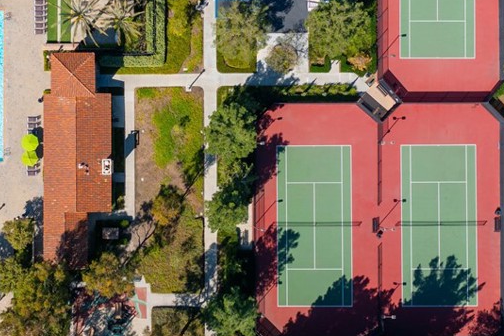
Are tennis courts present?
Yes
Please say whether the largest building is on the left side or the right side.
left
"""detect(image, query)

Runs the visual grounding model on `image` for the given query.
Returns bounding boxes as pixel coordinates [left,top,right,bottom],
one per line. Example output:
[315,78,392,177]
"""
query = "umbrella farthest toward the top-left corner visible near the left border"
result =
[22,134,38,150]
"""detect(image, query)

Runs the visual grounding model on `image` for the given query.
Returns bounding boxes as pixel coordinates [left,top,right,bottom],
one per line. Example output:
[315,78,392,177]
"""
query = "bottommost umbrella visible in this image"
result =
[22,151,39,166]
